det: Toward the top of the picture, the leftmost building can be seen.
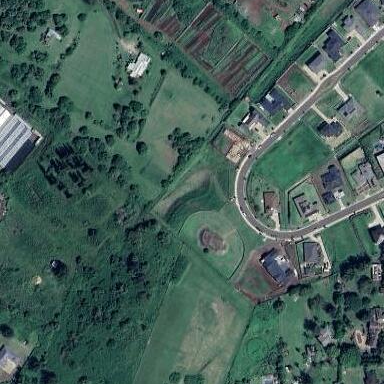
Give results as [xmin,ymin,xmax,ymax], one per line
[0,107,37,175]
